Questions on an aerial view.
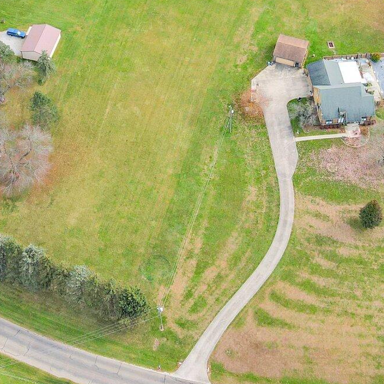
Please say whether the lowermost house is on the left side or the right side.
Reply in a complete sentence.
You can find the lowermost house on the right side of the picture.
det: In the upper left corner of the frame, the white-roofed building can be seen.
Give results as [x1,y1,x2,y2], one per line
[21,22,61,62]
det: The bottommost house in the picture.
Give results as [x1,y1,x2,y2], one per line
[307,57,376,131]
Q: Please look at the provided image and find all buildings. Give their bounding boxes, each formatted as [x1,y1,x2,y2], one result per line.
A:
[307,57,376,131]
[21,22,61,62]
[273,34,308,69]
